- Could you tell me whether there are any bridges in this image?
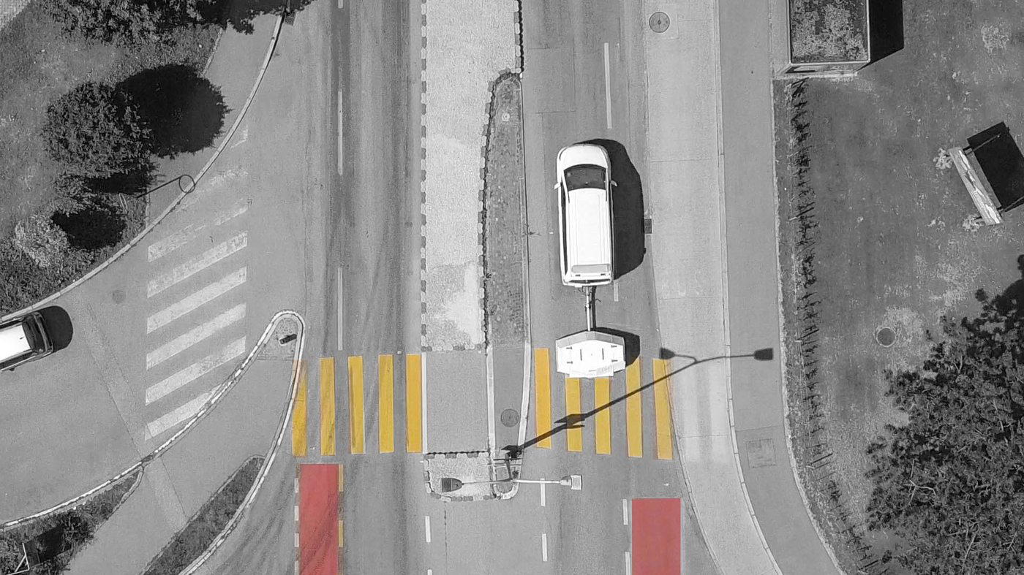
No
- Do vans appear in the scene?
Yes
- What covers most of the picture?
paved ground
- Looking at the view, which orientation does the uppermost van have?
from top to bottom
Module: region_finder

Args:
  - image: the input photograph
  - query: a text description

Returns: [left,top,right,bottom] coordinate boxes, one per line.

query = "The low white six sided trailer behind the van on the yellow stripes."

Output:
[557,286,626,378]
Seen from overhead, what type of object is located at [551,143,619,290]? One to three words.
van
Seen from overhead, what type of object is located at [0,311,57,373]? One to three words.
car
